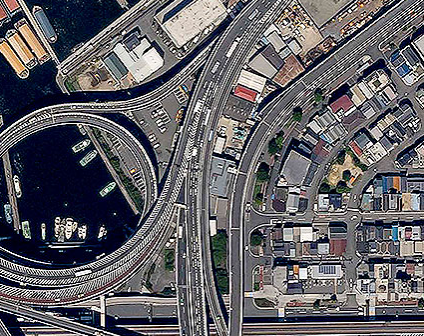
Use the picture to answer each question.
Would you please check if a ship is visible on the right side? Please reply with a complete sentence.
No, there is no ship on the right side.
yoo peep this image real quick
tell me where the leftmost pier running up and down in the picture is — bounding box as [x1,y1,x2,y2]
[3,160,20,228]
